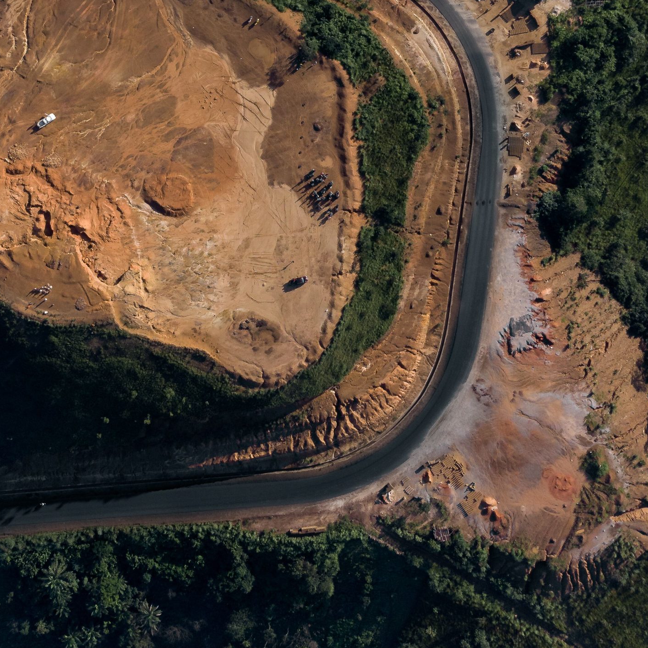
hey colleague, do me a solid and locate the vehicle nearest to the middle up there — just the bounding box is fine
[285,275,309,289]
